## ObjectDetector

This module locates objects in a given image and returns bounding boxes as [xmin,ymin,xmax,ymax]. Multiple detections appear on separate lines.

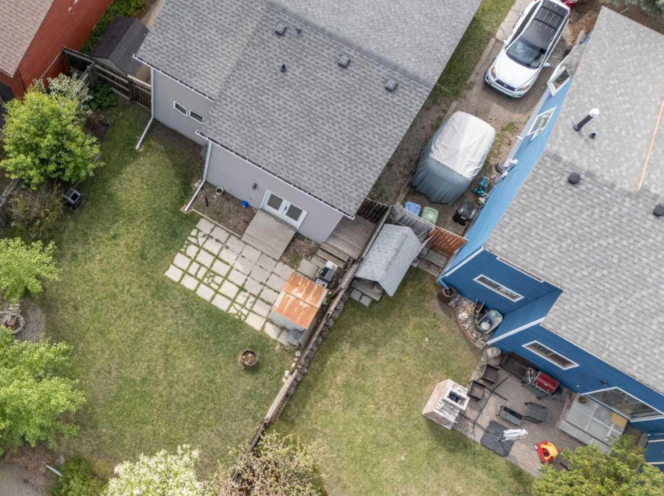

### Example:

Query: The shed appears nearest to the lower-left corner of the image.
[268,273,328,335]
